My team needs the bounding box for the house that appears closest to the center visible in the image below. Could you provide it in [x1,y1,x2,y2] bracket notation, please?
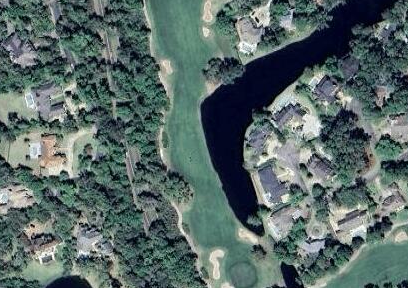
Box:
[250,124,274,148]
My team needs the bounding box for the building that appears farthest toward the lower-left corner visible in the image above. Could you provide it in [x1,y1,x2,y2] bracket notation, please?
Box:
[20,229,60,252]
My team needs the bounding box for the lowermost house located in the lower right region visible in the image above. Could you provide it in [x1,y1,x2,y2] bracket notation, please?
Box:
[299,234,328,255]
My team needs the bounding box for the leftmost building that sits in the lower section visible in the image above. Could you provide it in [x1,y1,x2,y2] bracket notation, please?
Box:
[2,184,33,205]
